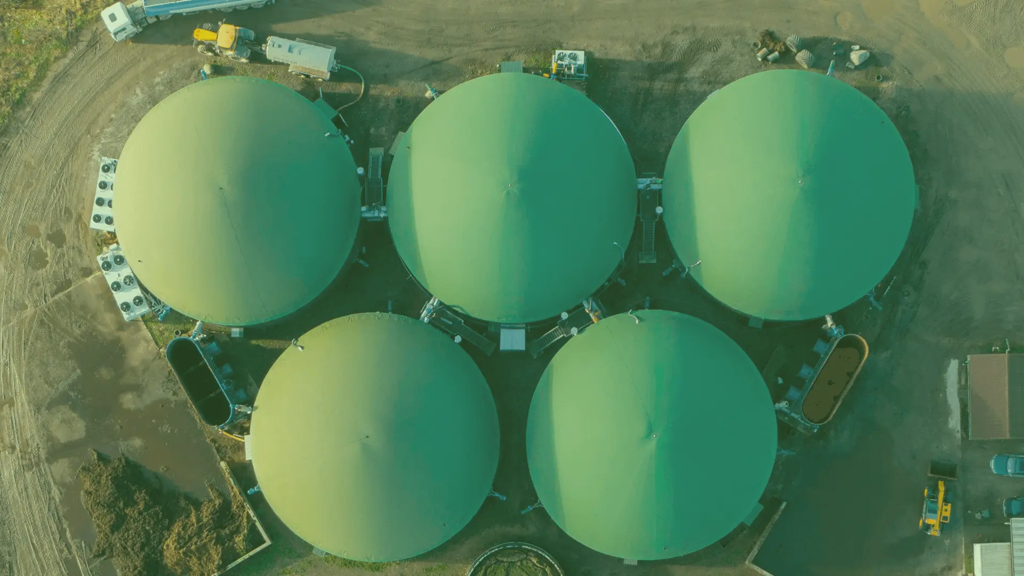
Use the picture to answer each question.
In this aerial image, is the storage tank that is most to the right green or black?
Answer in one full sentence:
The storage tank that is most to the right is green.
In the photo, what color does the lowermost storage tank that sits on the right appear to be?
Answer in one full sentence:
The lowermost storage tank that sits on the right looks green in the image.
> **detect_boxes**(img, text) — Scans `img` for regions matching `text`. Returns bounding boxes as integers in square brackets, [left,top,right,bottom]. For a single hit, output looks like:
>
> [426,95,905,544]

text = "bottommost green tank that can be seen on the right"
[526,309,777,561]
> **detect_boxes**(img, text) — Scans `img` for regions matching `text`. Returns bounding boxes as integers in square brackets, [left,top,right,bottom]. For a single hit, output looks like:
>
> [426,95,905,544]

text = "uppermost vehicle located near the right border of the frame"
[988,453,1024,478]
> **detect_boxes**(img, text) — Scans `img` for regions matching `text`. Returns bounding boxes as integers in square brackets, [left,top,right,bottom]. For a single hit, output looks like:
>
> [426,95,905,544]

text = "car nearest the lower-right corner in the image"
[1001,494,1024,518]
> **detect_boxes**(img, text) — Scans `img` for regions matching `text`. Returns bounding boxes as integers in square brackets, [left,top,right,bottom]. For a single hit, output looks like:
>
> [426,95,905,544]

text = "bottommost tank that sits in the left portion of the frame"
[250,312,502,562]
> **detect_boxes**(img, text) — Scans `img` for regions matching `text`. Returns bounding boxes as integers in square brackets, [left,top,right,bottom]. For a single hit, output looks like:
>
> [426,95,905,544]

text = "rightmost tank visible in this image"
[659,69,915,326]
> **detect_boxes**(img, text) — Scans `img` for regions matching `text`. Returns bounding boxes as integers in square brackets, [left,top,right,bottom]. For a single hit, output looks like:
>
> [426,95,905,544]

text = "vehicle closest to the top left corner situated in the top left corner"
[99,0,174,48]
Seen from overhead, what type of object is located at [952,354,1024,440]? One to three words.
shed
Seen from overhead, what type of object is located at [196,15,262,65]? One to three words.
work vehicle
